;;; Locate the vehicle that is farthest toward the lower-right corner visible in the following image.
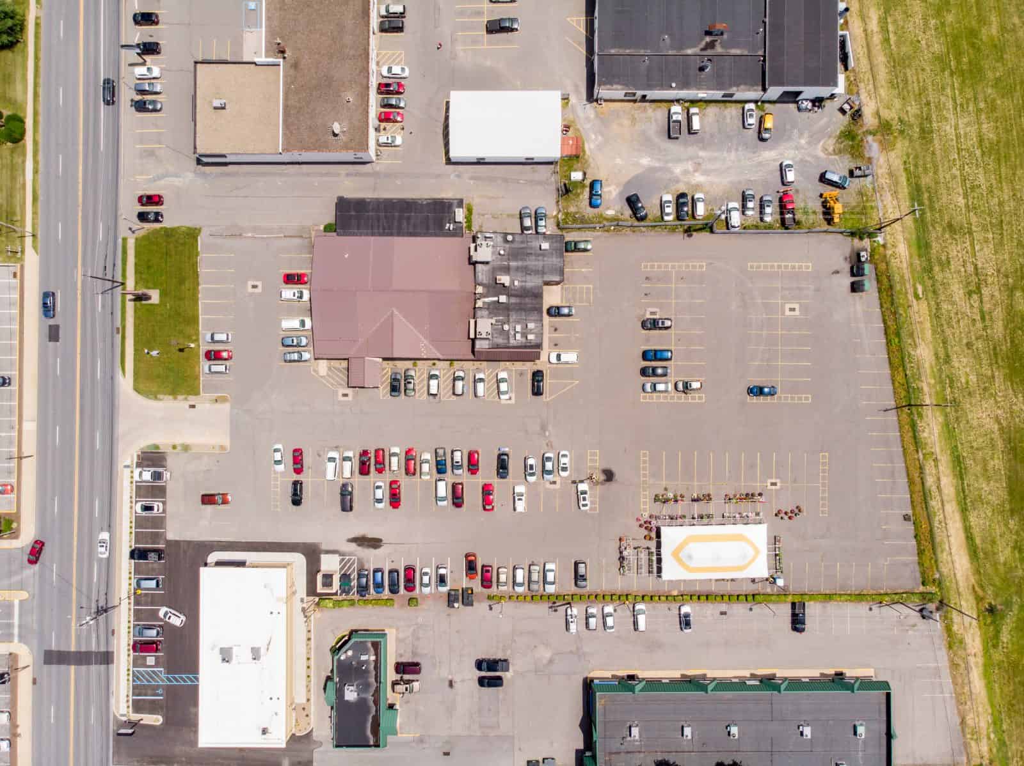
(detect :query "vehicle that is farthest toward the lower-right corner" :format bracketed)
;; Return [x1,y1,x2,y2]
[791,601,806,633]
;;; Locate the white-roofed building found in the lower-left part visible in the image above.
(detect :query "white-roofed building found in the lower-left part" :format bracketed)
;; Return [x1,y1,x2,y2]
[197,558,296,748]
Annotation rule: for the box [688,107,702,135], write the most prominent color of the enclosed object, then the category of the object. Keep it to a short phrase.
white car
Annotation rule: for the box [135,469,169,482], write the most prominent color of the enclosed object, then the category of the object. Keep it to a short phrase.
white vehicle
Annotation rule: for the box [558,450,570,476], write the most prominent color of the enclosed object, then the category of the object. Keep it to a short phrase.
white vehicle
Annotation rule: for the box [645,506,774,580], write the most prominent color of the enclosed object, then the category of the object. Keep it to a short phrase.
white tent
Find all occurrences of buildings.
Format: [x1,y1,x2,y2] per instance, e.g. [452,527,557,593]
[450,91,561,162]
[325,631,398,747]
[593,0,855,102]
[193,0,379,165]
[589,679,893,766]
[308,197,564,388]
[197,558,296,748]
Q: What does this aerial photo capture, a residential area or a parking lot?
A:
parking lot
